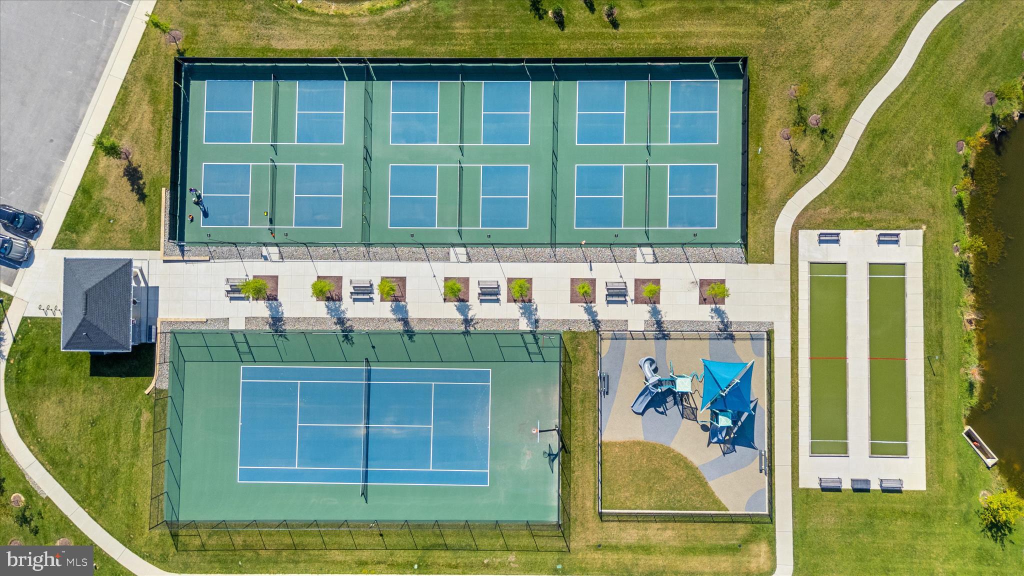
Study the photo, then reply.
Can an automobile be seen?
Yes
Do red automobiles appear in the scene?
No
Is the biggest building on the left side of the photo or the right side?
left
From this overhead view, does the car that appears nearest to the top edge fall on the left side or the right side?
left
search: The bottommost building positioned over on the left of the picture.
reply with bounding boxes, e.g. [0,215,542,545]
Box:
[60,257,146,352]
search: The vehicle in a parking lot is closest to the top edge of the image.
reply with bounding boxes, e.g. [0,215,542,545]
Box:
[0,201,43,234]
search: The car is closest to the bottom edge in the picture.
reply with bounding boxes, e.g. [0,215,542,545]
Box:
[0,232,31,261]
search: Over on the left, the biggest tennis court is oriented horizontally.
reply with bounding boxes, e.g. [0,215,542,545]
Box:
[238,366,491,486]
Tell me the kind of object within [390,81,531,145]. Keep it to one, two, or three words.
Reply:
sports court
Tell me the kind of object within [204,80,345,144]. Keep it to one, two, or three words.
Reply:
sports court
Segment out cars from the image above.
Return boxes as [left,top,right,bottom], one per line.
[0,232,31,261]
[0,201,43,234]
